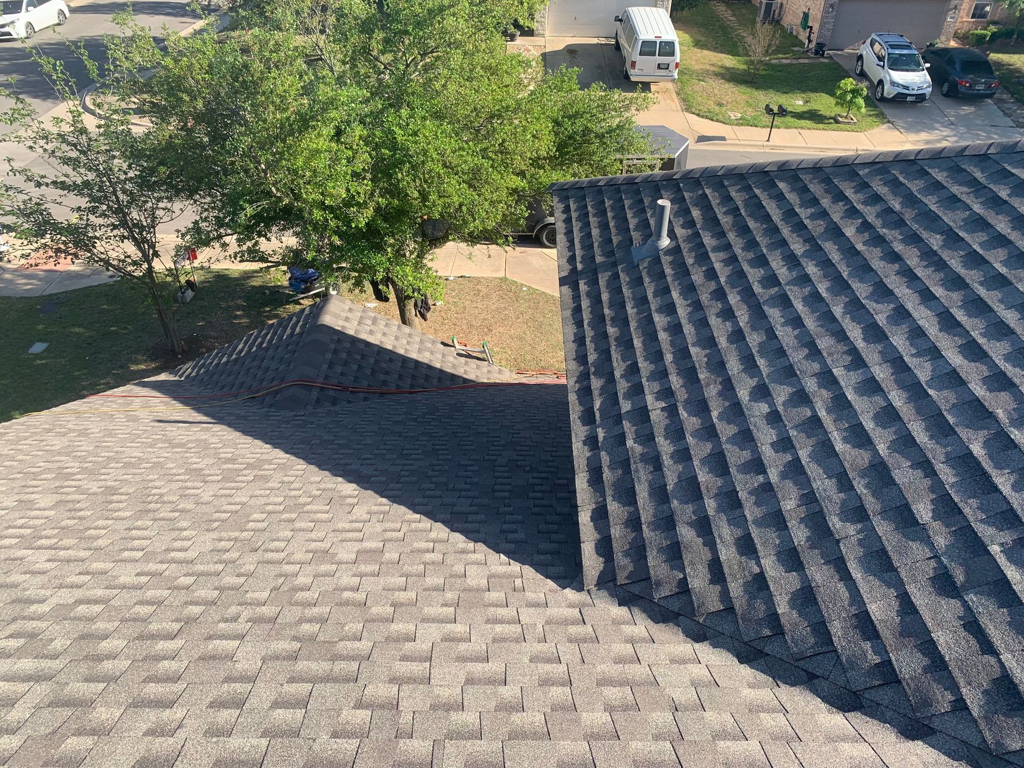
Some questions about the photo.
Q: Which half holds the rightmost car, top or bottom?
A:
top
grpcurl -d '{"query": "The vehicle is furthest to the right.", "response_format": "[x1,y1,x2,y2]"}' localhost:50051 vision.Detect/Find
[927,44,1014,98]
